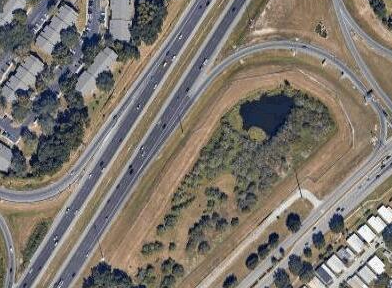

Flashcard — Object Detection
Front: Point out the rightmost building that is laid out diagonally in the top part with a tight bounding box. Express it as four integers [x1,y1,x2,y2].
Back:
[77,52,115,98]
